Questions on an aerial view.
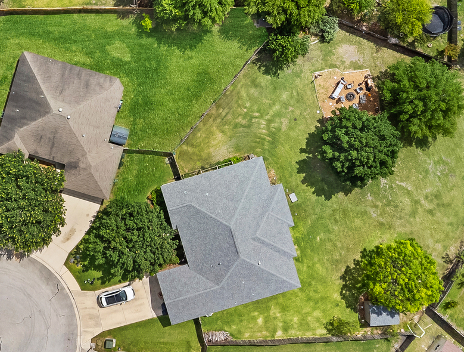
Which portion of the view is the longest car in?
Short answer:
bottom left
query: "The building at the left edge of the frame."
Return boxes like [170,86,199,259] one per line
[0,51,124,199]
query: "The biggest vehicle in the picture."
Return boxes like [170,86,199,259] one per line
[97,286,135,310]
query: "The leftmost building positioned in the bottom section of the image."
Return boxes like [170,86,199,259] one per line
[157,156,301,325]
